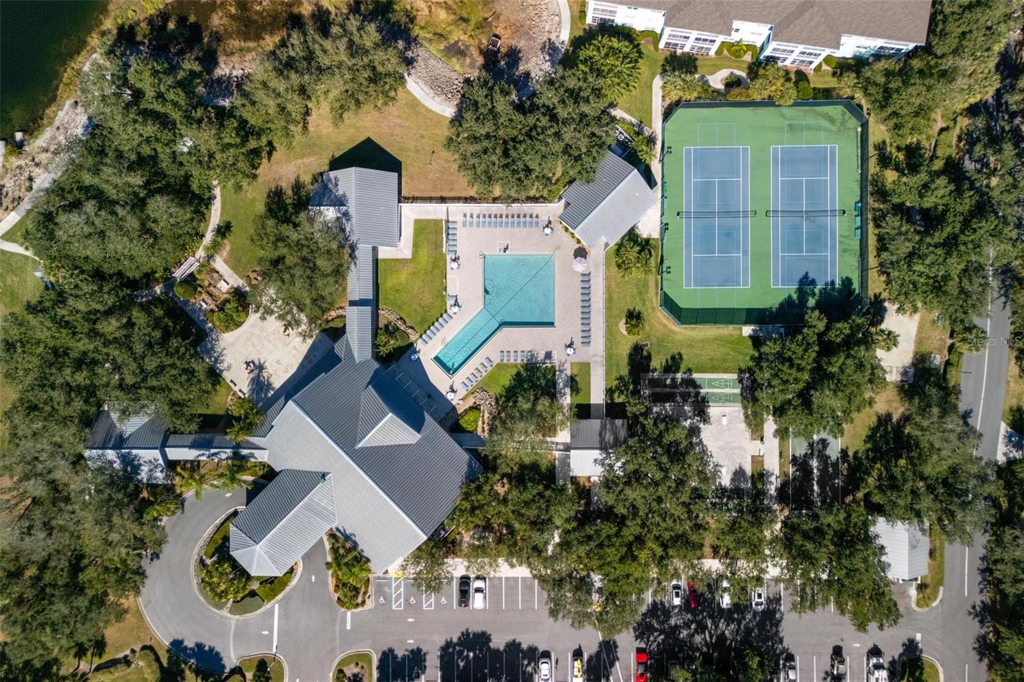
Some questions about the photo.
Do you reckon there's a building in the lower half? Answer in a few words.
Yes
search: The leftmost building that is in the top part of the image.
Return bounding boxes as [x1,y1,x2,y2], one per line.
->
[308,166,398,248]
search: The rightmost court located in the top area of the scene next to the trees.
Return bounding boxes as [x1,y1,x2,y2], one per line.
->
[760,106,860,325]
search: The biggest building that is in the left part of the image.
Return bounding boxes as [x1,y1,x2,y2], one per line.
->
[230,334,483,575]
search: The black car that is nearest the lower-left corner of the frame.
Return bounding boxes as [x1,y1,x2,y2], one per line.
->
[457,577,471,607]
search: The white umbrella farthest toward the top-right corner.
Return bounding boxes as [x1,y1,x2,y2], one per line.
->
[571,254,586,269]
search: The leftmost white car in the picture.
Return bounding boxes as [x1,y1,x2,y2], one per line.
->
[472,577,486,607]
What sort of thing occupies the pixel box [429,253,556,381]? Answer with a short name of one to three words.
swimming pool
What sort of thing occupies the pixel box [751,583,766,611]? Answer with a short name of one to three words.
car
